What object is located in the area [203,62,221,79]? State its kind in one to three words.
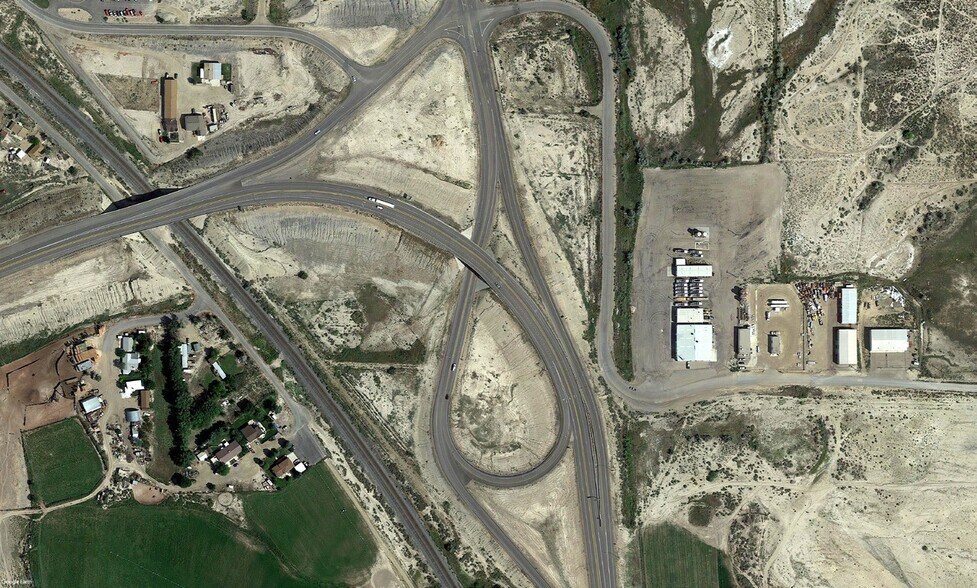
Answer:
house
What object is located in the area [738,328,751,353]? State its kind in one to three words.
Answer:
building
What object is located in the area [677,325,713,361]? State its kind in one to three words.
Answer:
building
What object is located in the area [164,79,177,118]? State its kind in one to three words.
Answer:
shed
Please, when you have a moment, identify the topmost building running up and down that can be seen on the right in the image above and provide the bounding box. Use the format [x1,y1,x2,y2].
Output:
[842,288,858,324]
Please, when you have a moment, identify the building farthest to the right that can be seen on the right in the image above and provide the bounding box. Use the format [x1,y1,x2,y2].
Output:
[871,329,909,352]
